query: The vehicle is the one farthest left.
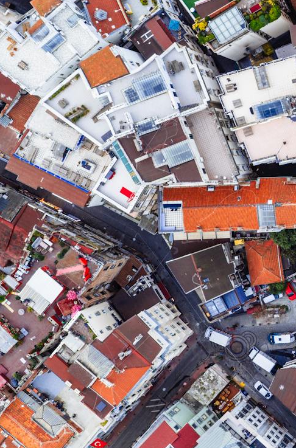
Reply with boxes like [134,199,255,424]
[200,327,233,351]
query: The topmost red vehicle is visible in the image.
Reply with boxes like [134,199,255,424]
[284,282,296,304]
